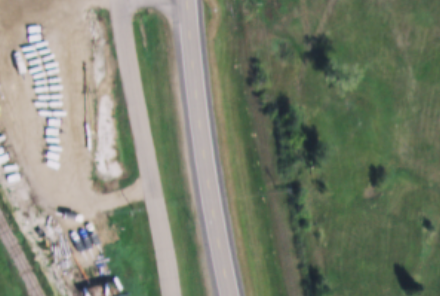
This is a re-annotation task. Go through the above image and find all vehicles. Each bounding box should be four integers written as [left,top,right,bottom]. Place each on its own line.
[86,221,101,242]
[78,227,93,248]
[36,226,46,236]
[56,208,80,220]
[70,230,85,250]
